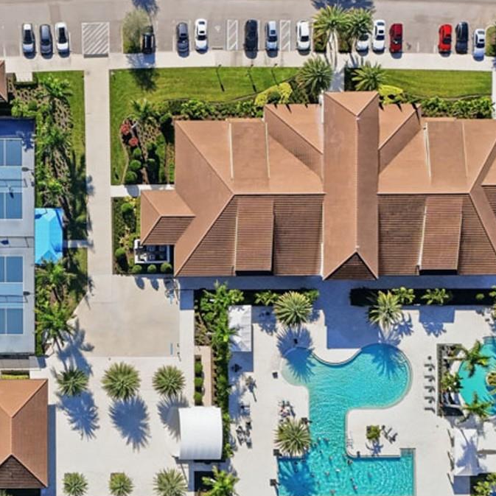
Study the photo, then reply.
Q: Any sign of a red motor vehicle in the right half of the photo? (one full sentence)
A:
Yes, you'll find a red motor vehicle in the right half of the photo.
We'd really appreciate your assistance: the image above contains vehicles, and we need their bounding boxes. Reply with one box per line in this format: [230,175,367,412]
[193,18,209,51]
[453,22,470,55]
[39,23,54,56]
[436,22,453,55]
[176,21,190,54]
[22,22,37,55]
[243,18,260,54]
[142,23,157,56]
[55,21,70,54]
[470,28,487,61]
[387,22,404,55]
[265,22,280,51]
[371,20,387,53]
[295,20,312,53]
